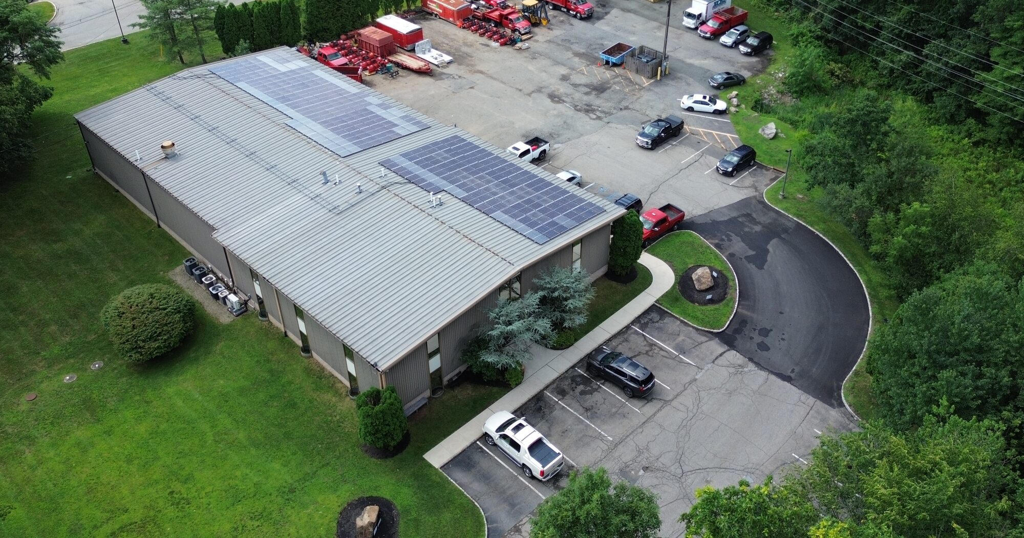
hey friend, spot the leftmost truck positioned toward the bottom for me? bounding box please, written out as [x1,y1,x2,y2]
[480,408,569,488]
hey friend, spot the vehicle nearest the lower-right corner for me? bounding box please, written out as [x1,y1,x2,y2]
[585,346,661,400]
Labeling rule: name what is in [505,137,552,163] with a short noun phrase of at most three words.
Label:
truck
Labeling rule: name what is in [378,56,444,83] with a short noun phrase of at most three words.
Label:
trailer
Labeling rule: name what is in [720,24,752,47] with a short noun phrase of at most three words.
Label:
car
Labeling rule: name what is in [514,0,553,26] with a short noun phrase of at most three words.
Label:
work vehicle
